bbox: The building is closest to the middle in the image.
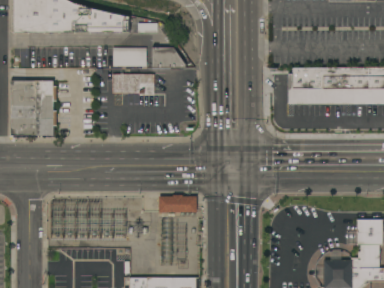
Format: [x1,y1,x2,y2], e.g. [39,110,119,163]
[160,194,198,216]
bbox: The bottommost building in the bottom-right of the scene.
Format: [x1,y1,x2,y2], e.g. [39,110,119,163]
[324,256,352,288]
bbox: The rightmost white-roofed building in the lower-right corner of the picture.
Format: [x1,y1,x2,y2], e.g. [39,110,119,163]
[352,220,384,288]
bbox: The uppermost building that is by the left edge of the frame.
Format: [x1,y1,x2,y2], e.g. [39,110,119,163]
[12,0,124,32]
